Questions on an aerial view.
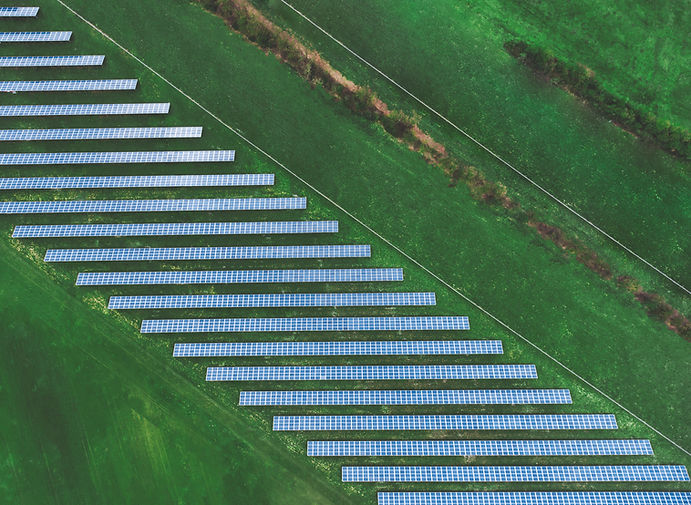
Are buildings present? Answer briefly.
No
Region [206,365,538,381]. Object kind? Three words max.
solar array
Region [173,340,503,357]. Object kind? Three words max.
solar array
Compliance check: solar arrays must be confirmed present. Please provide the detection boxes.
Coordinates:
[0,31,72,43]
[307,440,653,456]
[44,244,370,261]
[12,221,338,238]
[206,365,538,381]
[239,390,572,405]
[0,103,170,117]
[140,317,470,333]
[0,79,138,92]
[0,7,39,18]
[0,197,306,214]
[173,340,503,357]
[0,55,105,68]
[0,150,235,165]
[273,415,618,431]
[0,174,275,190]
[0,126,202,141]
[108,292,437,309]
[76,268,404,285]
[377,492,691,505]
[342,466,690,481]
